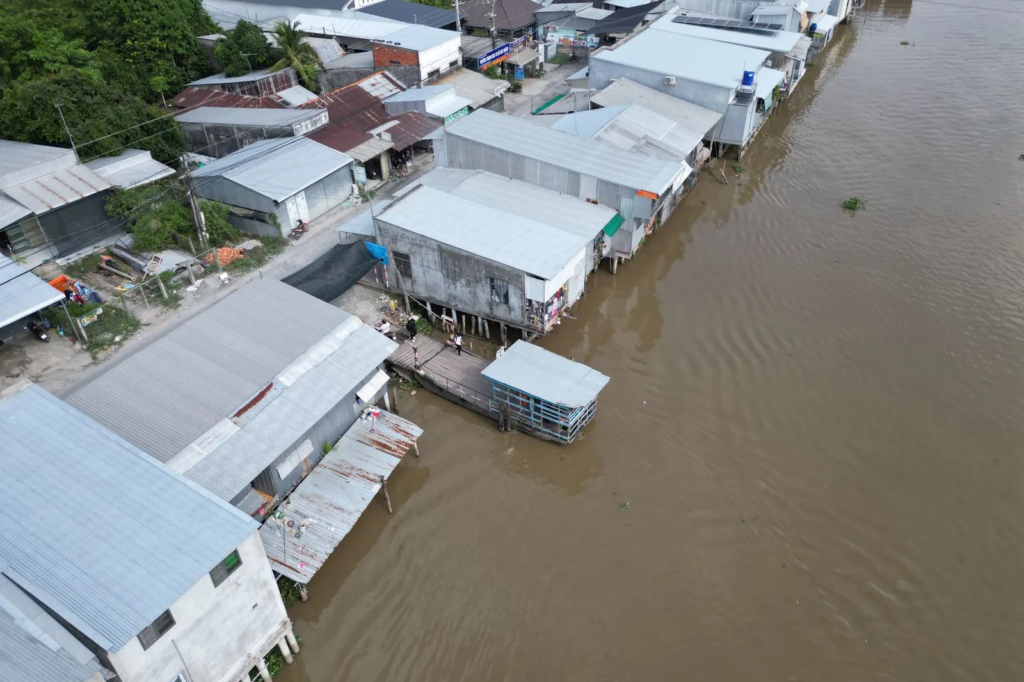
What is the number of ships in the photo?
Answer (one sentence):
Only 1 ship is visible.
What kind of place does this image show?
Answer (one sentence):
The area seen from above is a residential area.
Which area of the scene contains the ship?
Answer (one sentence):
The ship is in the center part of the image.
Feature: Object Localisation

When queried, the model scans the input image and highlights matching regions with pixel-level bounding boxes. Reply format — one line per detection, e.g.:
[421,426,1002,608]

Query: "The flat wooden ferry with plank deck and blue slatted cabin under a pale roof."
[420,340,609,448]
